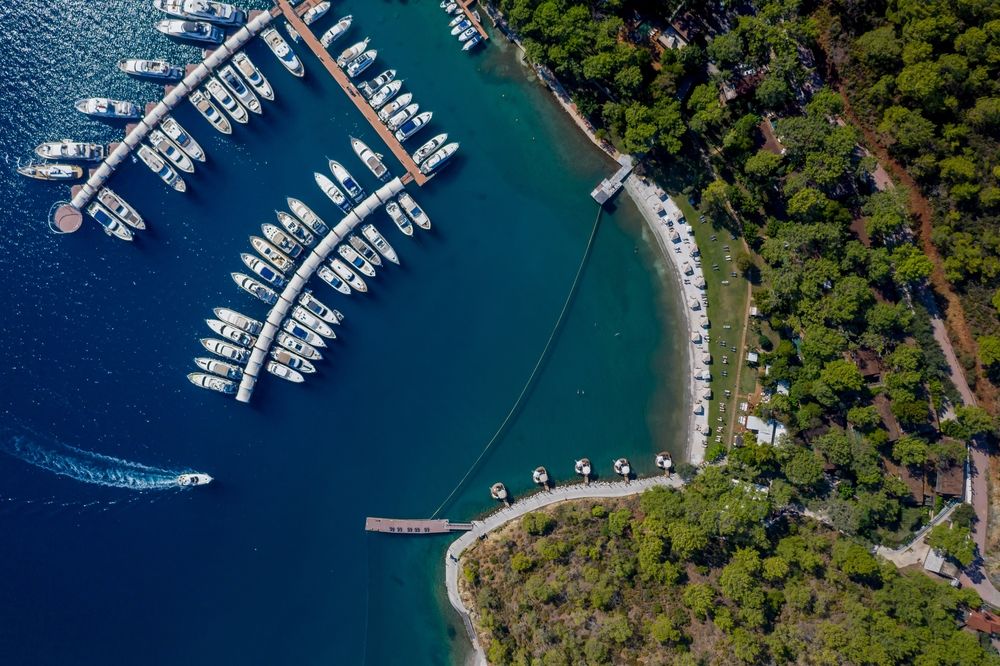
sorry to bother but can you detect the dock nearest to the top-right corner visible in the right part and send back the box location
[590,154,634,206]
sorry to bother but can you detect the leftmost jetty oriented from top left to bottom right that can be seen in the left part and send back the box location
[268,0,437,185]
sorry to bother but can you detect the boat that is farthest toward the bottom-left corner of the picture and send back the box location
[177,472,214,485]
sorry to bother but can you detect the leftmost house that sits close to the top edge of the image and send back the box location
[656,26,687,50]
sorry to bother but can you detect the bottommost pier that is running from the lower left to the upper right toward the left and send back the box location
[237,177,406,401]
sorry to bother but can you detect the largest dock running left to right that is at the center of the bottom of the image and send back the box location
[363,516,473,533]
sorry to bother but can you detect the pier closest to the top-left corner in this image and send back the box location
[48,10,275,234]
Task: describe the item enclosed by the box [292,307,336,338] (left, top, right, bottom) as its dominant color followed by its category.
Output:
white boat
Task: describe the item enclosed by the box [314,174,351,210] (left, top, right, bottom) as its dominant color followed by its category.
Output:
white boat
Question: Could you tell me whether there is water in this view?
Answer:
Yes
